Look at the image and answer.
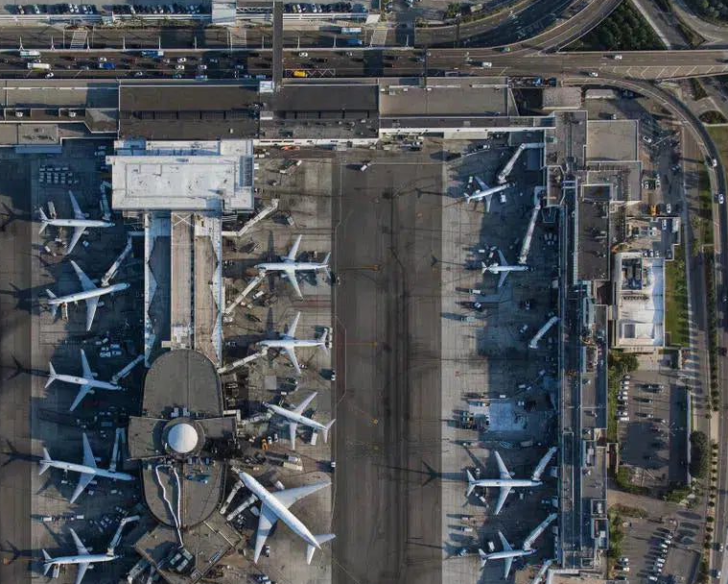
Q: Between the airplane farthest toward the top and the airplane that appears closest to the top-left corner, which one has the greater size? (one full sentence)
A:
Compared with the airplane farthest toward the top, the airplane that appears closest to the top-left corner is the larger one.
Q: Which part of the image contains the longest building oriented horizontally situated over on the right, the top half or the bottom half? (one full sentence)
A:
Seen from above, the longest building oriented horizontally situated over on the right lies in the top half of the view.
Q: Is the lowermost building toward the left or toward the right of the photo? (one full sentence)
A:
You can find the lowermost building on the right side of the picture.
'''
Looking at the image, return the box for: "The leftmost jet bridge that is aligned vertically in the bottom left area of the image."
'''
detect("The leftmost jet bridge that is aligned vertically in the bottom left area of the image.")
[108,426,128,478]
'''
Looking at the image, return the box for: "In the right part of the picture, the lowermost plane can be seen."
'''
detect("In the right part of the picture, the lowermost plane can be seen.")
[480,529,536,581]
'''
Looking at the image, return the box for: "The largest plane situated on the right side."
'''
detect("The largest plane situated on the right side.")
[468,451,543,515]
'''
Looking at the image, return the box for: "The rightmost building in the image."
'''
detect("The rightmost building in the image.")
[610,251,665,352]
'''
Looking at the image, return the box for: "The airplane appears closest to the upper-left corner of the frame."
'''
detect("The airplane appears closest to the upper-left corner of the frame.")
[40,191,115,254]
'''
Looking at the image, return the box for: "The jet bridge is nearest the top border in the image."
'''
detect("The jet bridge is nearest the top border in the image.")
[494,142,542,190]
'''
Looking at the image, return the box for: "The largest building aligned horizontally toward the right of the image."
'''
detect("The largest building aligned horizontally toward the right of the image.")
[380,78,544,147]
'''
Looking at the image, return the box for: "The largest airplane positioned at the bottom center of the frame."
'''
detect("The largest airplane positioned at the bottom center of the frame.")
[239,473,337,565]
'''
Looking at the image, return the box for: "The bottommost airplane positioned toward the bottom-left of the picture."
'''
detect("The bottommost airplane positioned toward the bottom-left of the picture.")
[43,529,119,584]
